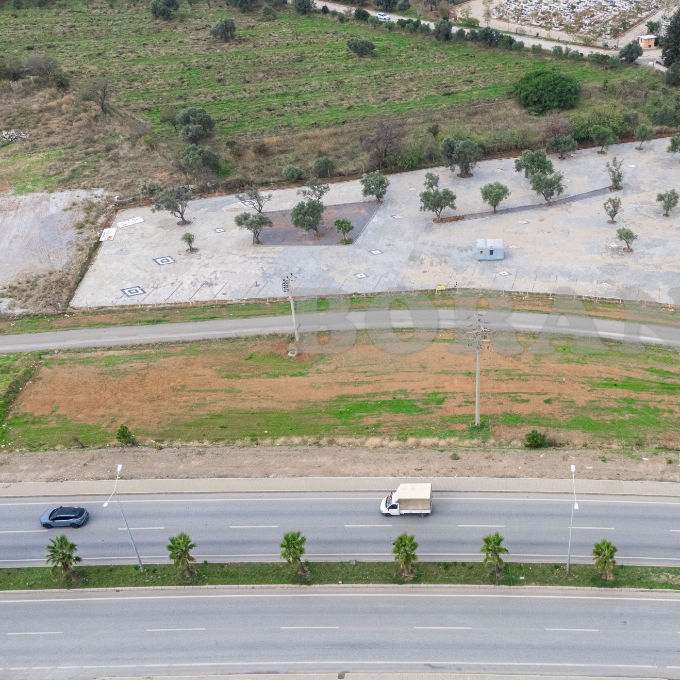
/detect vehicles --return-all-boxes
[40,503,93,528]
[376,14,389,20]
[383,480,432,516]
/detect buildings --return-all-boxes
[476,239,504,260]
[638,33,657,49]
